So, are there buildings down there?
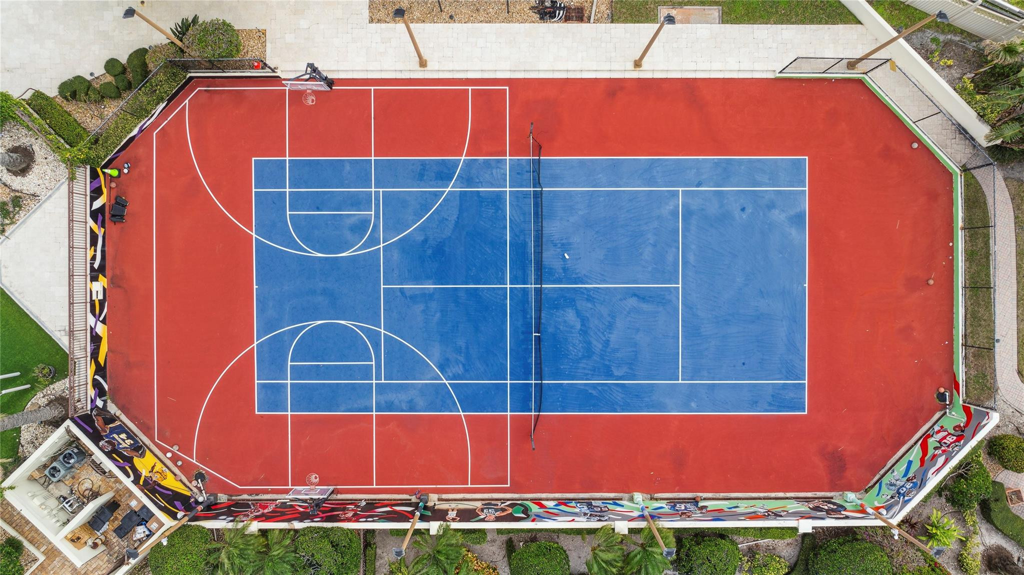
No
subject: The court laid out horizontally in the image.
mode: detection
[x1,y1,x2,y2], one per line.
[107,78,954,495]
